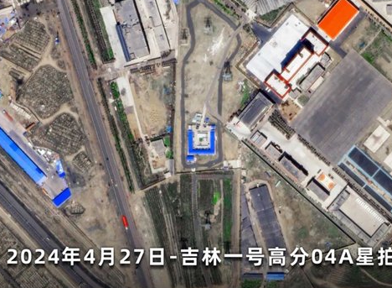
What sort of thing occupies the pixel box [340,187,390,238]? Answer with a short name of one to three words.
building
